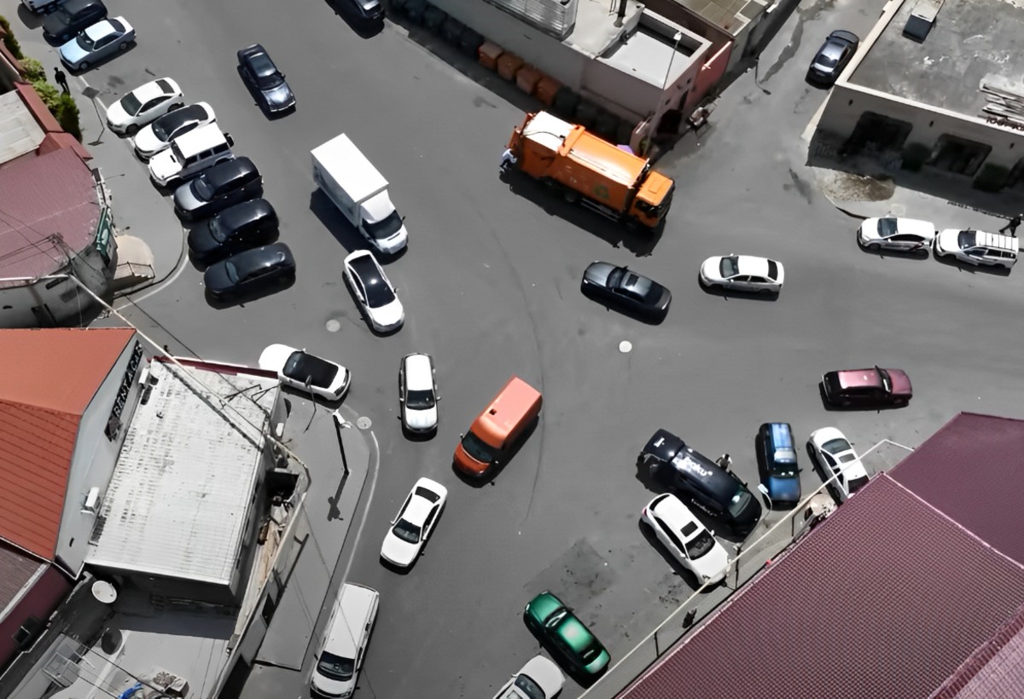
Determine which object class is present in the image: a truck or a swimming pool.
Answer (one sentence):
The one in the frame is a truck.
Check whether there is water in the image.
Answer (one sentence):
No, there is no water in the image.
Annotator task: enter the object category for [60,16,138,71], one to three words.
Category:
car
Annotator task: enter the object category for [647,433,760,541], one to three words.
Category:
van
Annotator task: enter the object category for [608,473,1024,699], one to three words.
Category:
building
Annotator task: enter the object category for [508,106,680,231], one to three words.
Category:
truck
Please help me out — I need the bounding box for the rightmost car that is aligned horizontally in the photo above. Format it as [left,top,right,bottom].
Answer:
[935,226,1017,271]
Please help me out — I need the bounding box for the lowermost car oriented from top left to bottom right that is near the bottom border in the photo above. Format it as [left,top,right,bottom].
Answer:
[527,593,610,679]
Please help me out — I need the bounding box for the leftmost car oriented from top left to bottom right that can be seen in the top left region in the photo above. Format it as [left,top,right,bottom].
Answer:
[236,44,297,116]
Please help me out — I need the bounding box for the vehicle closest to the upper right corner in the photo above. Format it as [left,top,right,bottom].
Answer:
[805,29,856,87]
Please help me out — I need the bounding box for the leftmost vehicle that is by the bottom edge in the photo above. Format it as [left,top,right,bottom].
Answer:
[315,589,384,695]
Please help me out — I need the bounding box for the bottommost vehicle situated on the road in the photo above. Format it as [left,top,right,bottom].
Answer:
[494,658,565,699]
